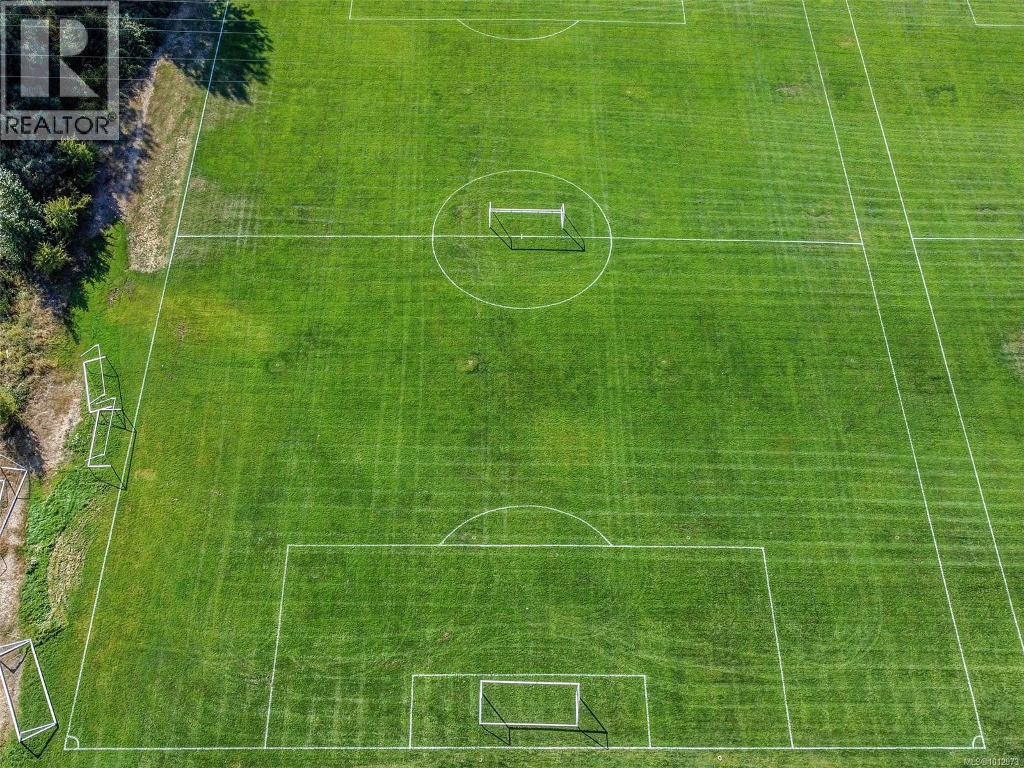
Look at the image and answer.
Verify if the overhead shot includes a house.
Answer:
No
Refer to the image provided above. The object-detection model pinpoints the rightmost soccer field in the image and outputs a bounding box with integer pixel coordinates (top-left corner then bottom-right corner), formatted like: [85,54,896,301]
[846,0,1024,631]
